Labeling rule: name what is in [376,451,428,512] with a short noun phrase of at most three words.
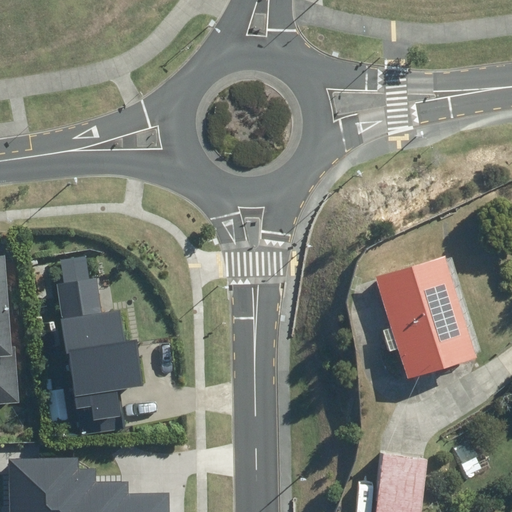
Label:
building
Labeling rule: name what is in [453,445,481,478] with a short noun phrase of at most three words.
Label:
shed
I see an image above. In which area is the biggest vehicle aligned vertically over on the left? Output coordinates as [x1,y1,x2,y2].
[160,344,174,374]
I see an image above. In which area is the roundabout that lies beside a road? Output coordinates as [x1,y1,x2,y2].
[166,40,332,206]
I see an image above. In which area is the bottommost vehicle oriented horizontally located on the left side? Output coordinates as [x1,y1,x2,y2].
[125,402,158,417]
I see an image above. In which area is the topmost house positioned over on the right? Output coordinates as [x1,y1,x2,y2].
[376,257,477,378]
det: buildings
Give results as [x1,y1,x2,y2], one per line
[376,257,477,378]
[453,445,481,478]
[56,256,142,435]
[10,458,170,512]
[50,388,68,422]
[376,451,428,512]
[0,248,20,404]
